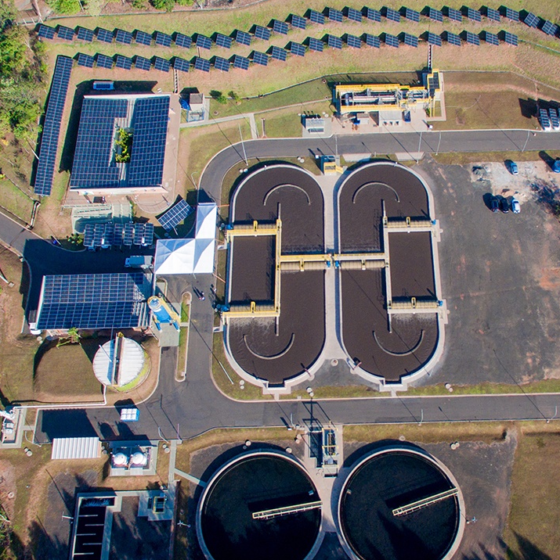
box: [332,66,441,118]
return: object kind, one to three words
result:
building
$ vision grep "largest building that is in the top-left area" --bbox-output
[70,93,173,197]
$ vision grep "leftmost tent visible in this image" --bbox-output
[155,239,196,279]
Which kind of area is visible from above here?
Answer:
industrial area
